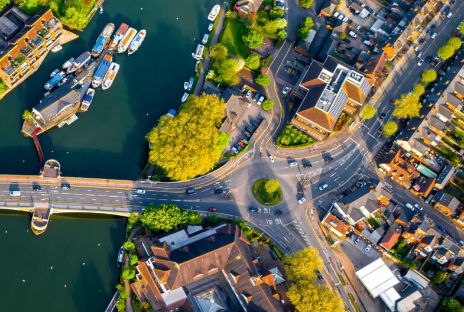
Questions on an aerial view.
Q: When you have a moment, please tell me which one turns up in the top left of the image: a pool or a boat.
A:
boat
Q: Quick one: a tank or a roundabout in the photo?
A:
roundabout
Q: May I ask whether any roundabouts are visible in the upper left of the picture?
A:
No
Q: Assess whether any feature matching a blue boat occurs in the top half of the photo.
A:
Yes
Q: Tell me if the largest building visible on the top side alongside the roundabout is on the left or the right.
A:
right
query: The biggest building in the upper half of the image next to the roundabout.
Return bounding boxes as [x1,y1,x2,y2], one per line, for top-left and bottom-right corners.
[289,59,372,145]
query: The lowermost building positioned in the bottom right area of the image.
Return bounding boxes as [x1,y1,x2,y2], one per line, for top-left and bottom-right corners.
[394,290,422,312]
